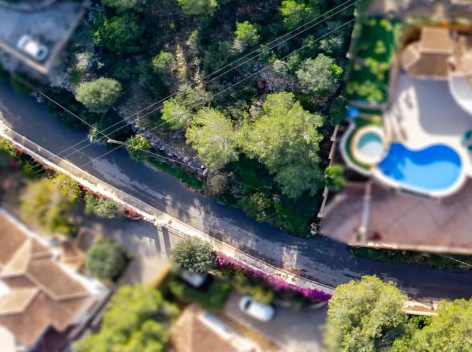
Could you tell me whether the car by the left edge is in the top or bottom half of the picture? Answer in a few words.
top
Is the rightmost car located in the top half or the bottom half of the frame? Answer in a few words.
bottom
